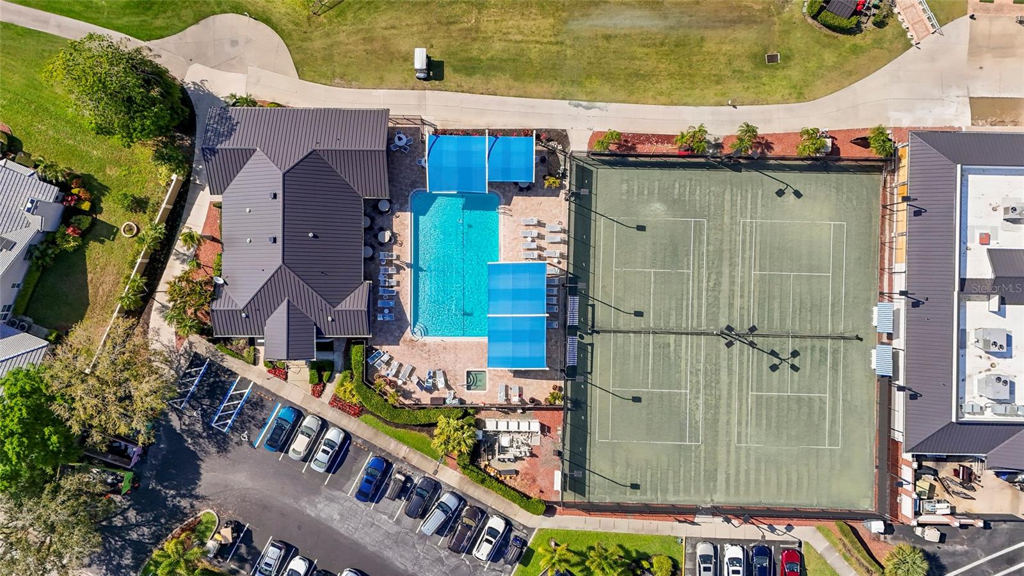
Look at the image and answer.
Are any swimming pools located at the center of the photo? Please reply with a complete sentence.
Yes, a swimming pool can be seen at the center of the photo.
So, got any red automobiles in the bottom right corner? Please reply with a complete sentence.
Yes, there is a red automobile in the bottom right corner.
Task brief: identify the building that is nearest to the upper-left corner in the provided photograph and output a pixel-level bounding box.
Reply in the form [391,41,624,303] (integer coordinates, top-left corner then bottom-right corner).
[0,158,67,304]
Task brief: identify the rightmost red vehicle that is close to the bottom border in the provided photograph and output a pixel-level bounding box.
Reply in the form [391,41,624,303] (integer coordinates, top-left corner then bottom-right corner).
[779,548,802,576]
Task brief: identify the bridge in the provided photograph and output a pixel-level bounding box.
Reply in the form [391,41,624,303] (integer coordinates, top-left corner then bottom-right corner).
[896,0,949,40]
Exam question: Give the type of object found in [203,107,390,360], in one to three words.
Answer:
building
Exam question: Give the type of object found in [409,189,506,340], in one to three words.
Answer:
swimming pool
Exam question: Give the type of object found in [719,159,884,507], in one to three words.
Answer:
tennis court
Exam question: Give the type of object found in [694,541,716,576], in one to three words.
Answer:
car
